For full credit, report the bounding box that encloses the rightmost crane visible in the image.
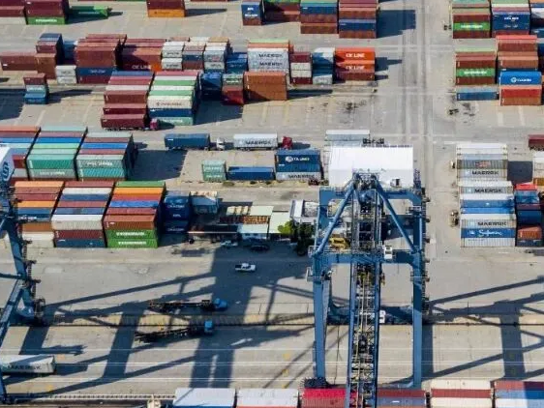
[297,141,436,408]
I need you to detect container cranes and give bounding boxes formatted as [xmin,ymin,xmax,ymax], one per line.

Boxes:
[297,141,436,408]
[0,142,48,401]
